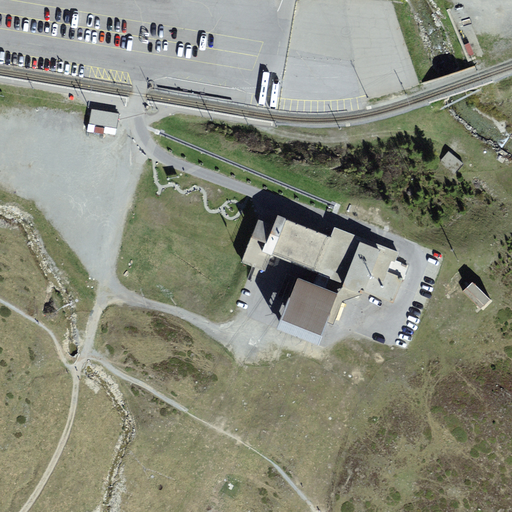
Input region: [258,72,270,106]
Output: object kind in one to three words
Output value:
vehicle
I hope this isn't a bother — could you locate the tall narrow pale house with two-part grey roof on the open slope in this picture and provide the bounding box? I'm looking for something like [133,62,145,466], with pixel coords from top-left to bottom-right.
[462,282,492,314]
